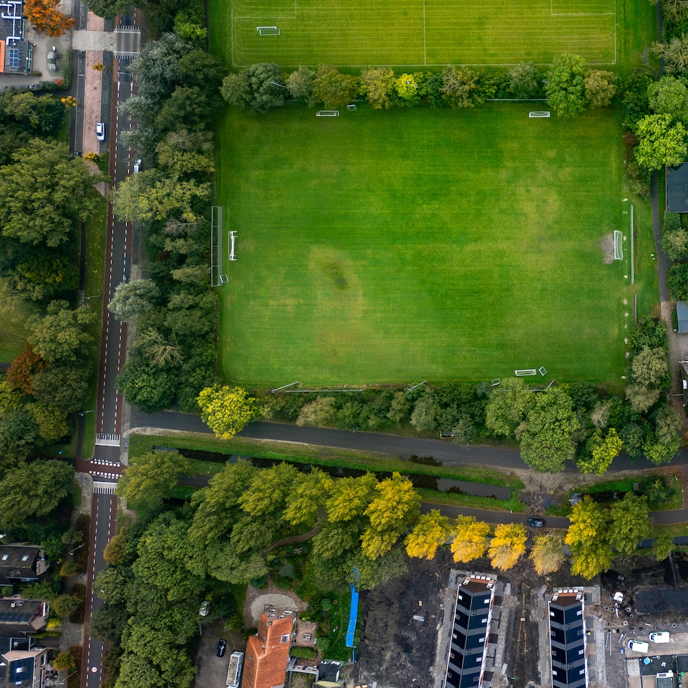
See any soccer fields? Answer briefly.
Yes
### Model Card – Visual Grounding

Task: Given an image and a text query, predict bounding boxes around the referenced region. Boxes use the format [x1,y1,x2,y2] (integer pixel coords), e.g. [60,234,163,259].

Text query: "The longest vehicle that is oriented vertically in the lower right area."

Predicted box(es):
[611,592,624,618]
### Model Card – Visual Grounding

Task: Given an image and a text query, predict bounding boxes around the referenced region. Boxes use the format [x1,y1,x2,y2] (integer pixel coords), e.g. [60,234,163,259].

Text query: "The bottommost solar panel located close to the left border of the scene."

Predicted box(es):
[10,658,34,684]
